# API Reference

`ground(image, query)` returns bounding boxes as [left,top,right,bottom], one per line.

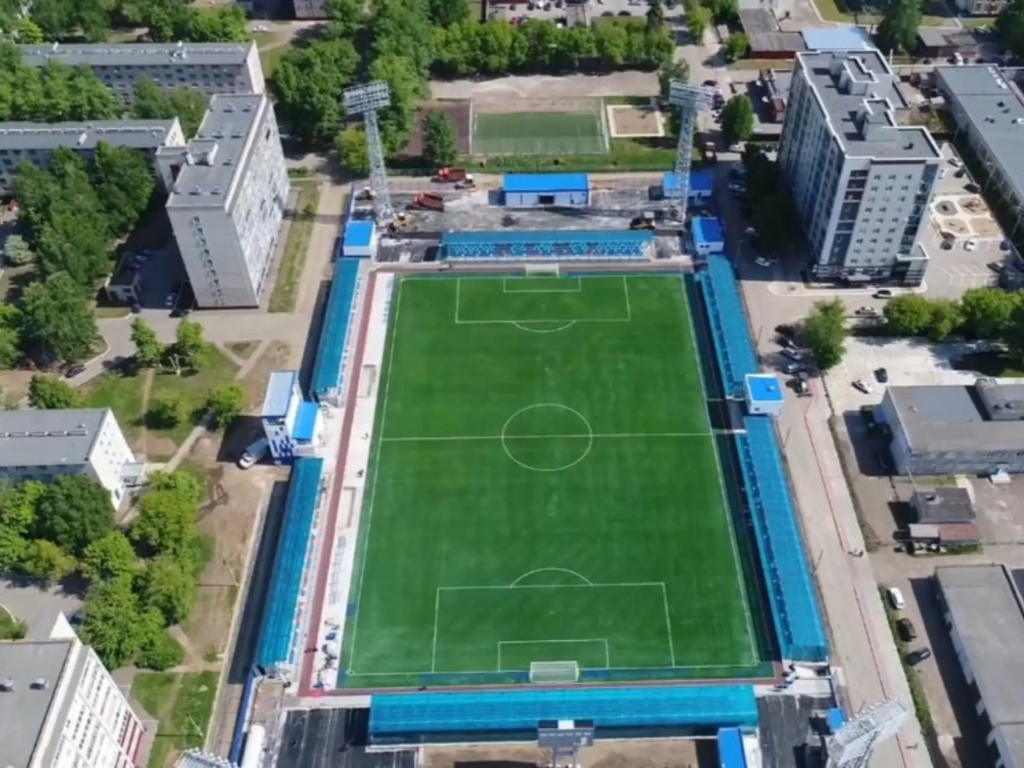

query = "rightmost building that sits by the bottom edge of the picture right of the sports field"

[931,565,1024,768]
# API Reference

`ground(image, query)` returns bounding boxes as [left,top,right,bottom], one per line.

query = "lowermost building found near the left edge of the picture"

[0,637,136,768]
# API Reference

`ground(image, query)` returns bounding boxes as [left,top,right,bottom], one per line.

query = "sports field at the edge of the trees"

[335,264,781,688]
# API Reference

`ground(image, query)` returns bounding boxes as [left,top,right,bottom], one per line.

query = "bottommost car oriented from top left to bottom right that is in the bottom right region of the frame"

[895,616,920,643]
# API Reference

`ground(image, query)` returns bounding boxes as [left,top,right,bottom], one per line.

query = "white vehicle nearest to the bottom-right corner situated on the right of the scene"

[883,584,910,612]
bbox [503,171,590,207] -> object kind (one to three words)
building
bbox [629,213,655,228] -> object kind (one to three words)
work vehicle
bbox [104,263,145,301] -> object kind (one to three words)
shed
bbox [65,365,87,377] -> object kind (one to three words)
vehicle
